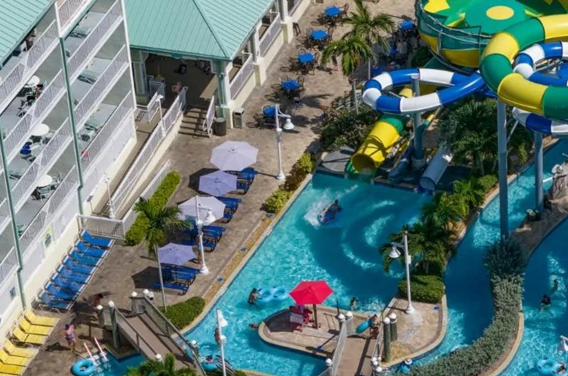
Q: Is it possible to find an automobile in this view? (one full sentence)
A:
No, the frame has no automobile in it.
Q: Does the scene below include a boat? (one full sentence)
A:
No, I can't see a single boat in this photo.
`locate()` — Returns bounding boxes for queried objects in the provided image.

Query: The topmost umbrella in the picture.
[208,146,263,178]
